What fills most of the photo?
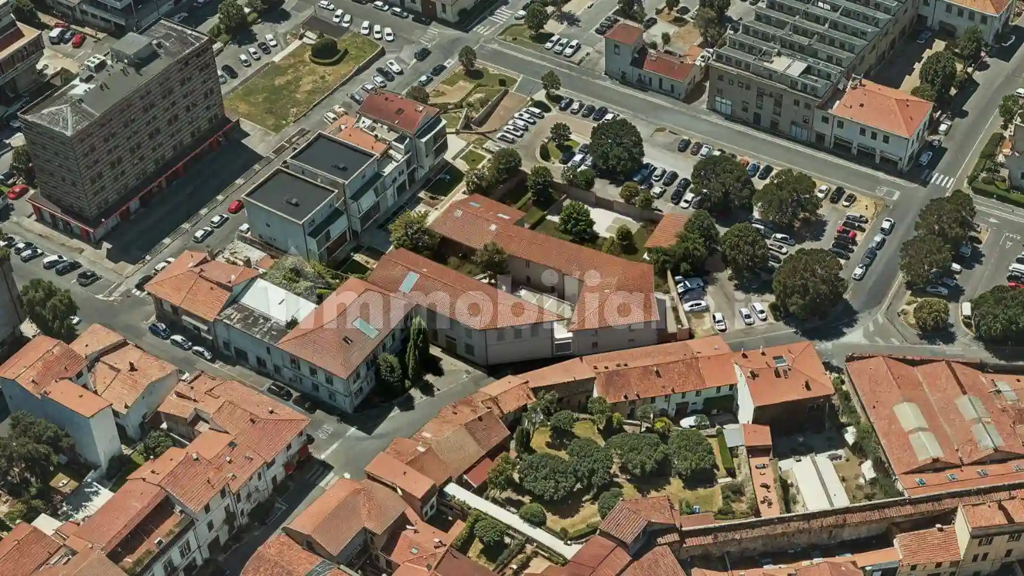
buildings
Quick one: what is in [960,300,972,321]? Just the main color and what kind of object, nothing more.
white vehicle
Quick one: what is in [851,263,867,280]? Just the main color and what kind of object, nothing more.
white car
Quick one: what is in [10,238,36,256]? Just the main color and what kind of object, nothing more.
gray car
